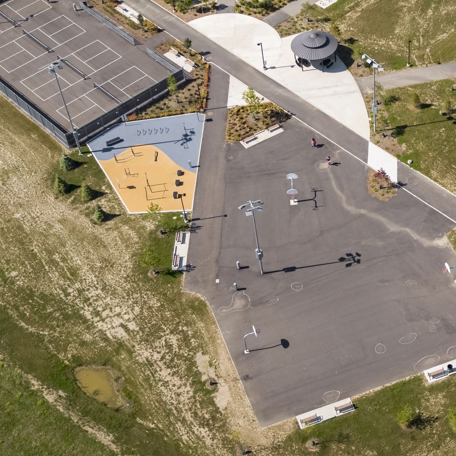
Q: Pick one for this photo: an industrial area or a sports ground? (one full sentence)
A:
What you see here is a sports ground.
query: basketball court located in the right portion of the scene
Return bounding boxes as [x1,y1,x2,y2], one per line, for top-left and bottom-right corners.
[197,116,456,427]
